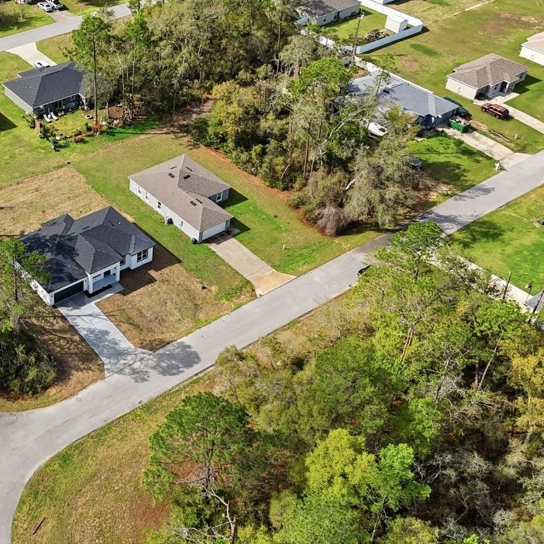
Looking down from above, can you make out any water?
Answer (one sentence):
No, there is no water in the image.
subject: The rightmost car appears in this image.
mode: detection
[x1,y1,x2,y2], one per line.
[481,99,511,118]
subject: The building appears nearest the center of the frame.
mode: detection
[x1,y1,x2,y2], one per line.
[124,154,234,244]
